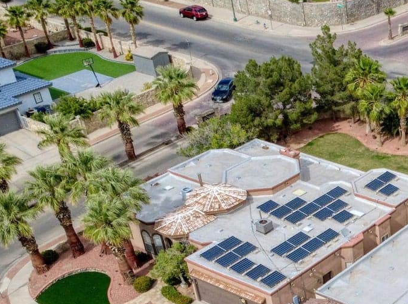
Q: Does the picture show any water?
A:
No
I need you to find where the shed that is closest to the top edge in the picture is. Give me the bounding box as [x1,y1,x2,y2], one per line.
[130,42,170,75]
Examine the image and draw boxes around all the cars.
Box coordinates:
[179,5,210,21]
[211,81,243,104]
